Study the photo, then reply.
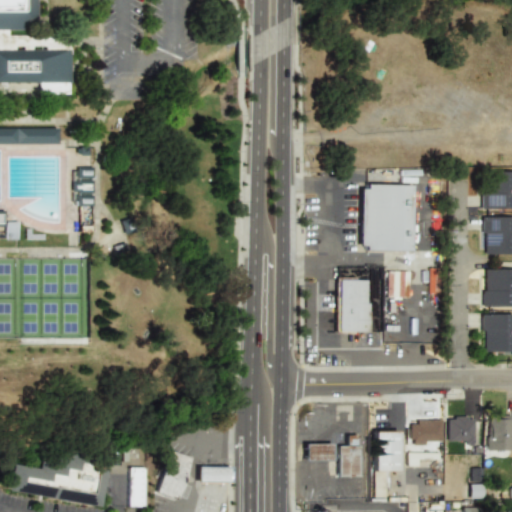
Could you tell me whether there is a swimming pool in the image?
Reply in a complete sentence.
Yes, the image includes a swimming pool.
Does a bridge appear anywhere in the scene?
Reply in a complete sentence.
Yes, a bridge is visible in the scene.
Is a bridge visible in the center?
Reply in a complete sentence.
No, in the center there is no bridge.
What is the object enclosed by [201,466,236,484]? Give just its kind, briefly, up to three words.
building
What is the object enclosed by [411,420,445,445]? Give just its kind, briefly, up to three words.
house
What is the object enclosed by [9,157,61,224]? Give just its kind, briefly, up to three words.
swimming pool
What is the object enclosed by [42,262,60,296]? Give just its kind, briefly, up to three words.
sports court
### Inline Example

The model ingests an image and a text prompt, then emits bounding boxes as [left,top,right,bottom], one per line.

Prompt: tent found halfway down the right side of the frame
[389,271,412,298]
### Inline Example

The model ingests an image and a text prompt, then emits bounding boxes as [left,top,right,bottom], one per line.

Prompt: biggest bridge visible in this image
[251,16,298,66]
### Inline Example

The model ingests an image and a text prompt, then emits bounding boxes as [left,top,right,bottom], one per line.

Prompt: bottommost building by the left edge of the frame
[14,460,110,508]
